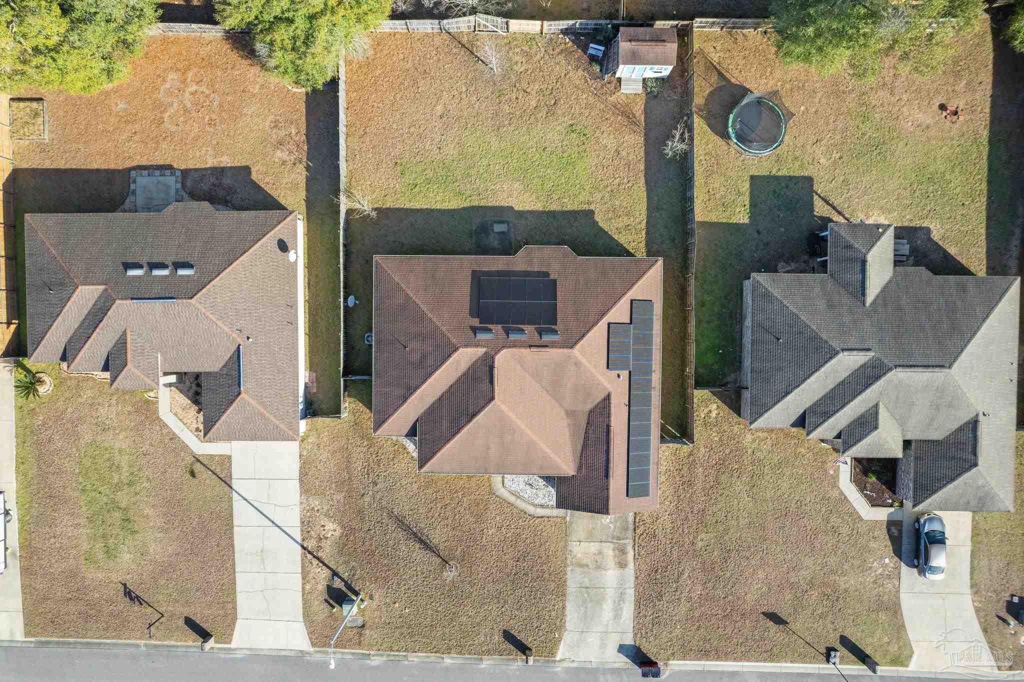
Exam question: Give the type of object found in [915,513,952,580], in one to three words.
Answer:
car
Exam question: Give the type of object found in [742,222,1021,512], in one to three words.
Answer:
house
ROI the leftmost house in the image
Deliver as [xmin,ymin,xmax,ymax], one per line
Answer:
[24,201,306,442]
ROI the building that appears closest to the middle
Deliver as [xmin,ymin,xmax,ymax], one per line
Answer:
[372,246,663,515]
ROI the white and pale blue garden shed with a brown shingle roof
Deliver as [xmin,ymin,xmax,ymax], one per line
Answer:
[616,34,679,93]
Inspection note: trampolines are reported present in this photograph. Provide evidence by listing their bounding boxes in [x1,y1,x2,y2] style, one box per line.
[724,85,798,163]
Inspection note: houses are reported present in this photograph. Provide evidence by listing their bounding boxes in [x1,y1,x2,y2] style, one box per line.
[742,222,1021,512]
[372,246,663,515]
[24,201,306,442]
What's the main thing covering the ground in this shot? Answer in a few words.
grass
